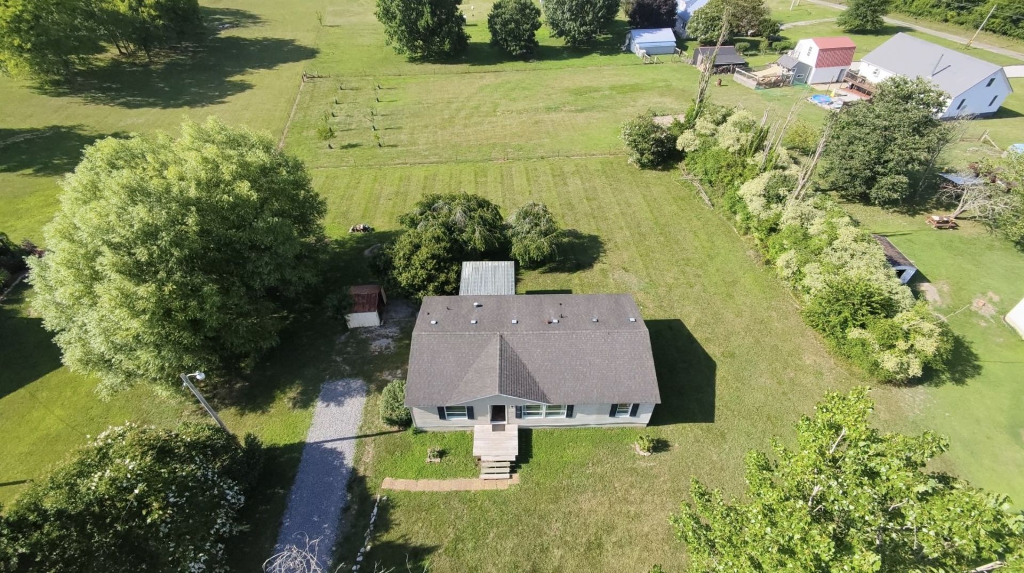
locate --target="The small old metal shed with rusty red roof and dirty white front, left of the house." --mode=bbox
[344,288,391,327]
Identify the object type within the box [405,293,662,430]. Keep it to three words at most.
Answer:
house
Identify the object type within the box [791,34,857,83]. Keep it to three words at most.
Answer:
barn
